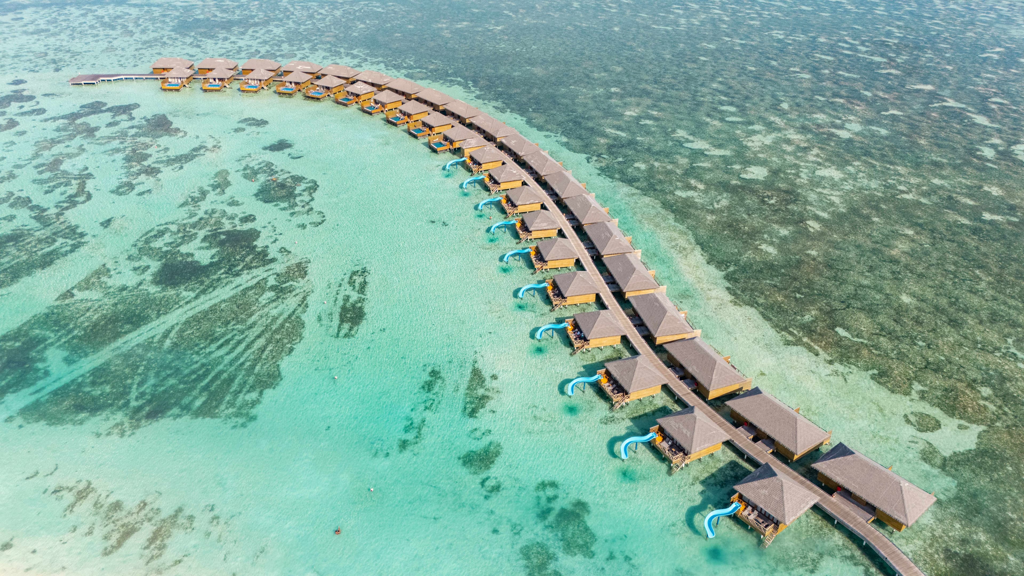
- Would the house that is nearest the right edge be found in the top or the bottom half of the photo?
bottom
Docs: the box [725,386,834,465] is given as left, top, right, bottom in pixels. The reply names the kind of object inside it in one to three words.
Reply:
house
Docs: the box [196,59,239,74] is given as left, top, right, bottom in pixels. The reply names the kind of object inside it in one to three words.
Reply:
house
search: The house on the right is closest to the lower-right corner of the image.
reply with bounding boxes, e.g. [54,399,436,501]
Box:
[812,442,936,539]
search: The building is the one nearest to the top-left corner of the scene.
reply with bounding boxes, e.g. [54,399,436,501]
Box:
[151,58,195,74]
